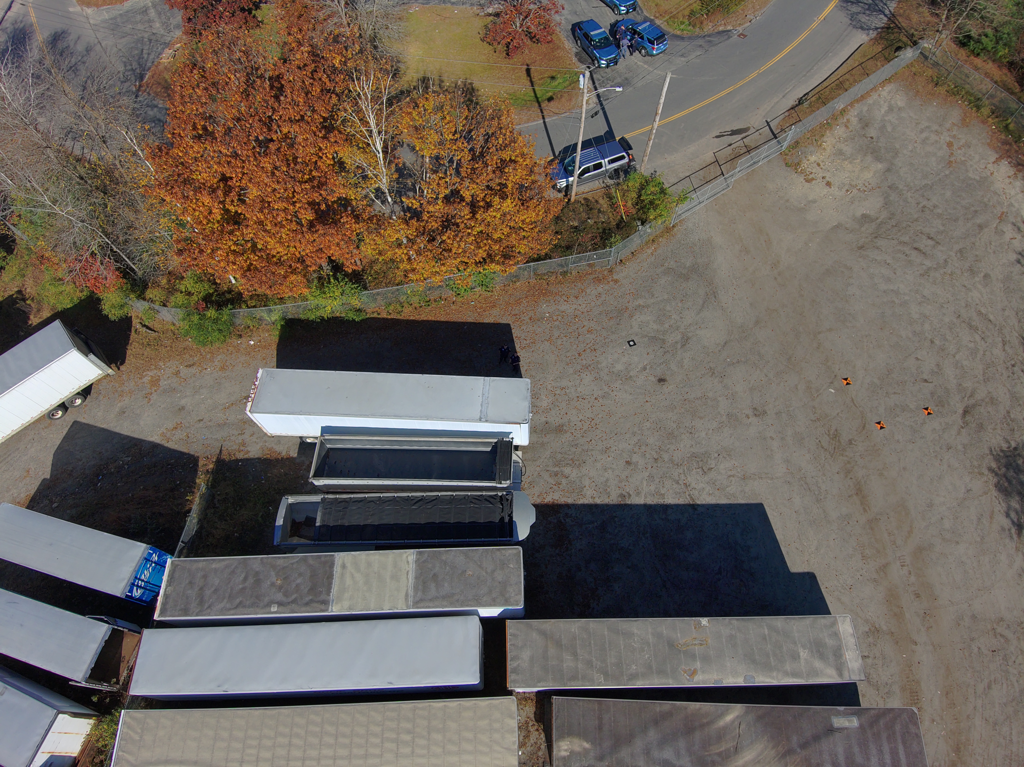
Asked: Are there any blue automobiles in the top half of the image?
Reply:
Yes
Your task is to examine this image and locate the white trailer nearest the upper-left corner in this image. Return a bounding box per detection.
[0,318,122,448]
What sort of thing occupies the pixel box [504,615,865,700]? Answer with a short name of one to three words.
trailer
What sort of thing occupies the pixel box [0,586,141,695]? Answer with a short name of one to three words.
trailer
